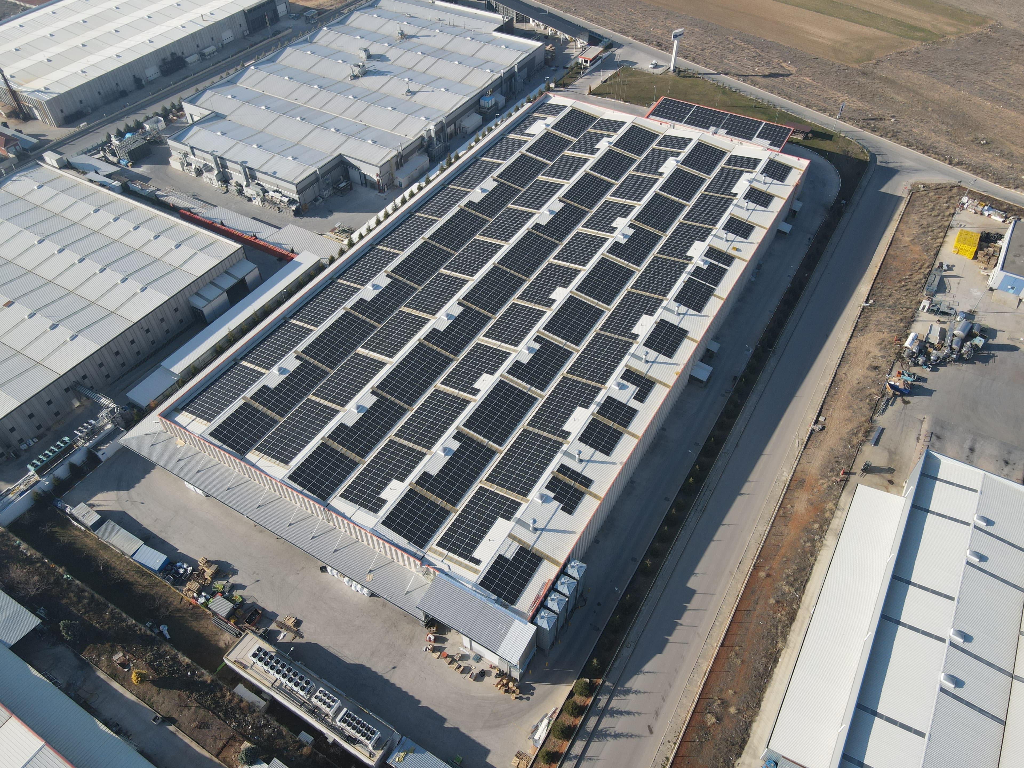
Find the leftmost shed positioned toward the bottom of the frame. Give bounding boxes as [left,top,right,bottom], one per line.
[0,588,55,662]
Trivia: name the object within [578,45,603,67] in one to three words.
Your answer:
building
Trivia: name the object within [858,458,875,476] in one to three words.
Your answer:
work vehicle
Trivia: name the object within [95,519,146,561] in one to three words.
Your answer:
shipping container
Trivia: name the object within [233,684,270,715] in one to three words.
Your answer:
shed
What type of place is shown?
industrial area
